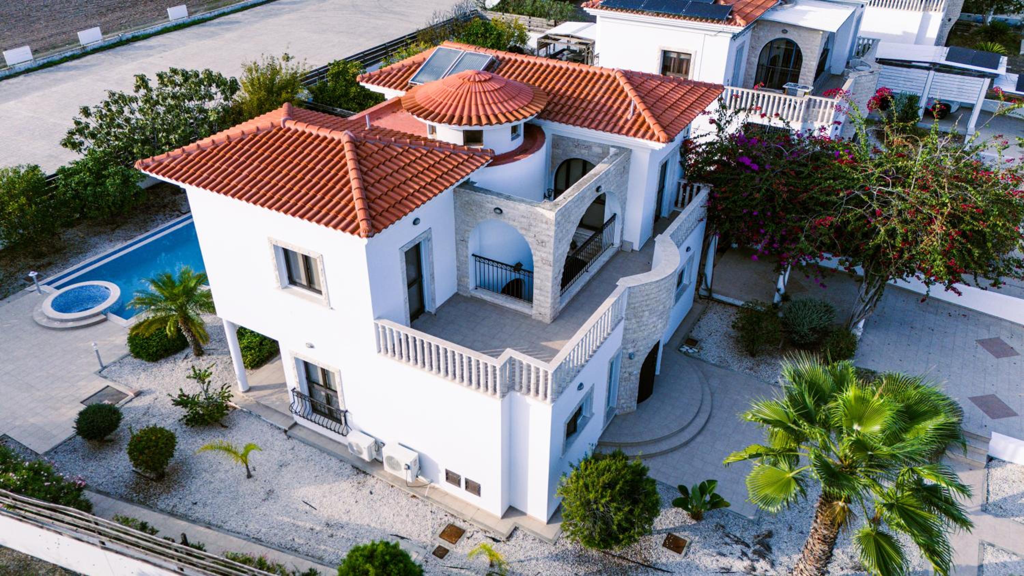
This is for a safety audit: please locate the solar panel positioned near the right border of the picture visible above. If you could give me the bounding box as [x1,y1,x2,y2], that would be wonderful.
[951,46,1006,72]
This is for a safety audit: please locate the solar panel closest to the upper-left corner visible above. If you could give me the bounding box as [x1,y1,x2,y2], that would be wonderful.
[408,45,494,84]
